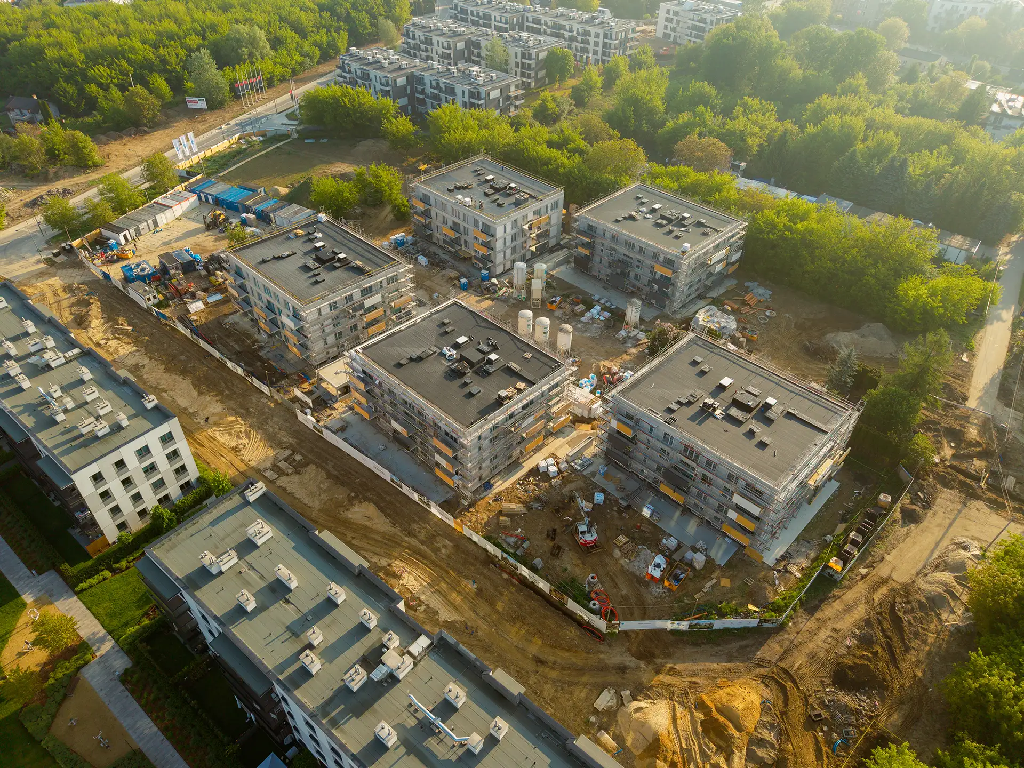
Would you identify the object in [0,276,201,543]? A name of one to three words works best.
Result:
building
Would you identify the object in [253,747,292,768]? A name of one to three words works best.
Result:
gazebo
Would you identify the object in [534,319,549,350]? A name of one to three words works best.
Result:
silo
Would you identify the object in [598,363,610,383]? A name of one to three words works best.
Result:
vehicle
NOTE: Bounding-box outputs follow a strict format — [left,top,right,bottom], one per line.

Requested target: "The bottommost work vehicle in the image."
[568,495,606,560]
